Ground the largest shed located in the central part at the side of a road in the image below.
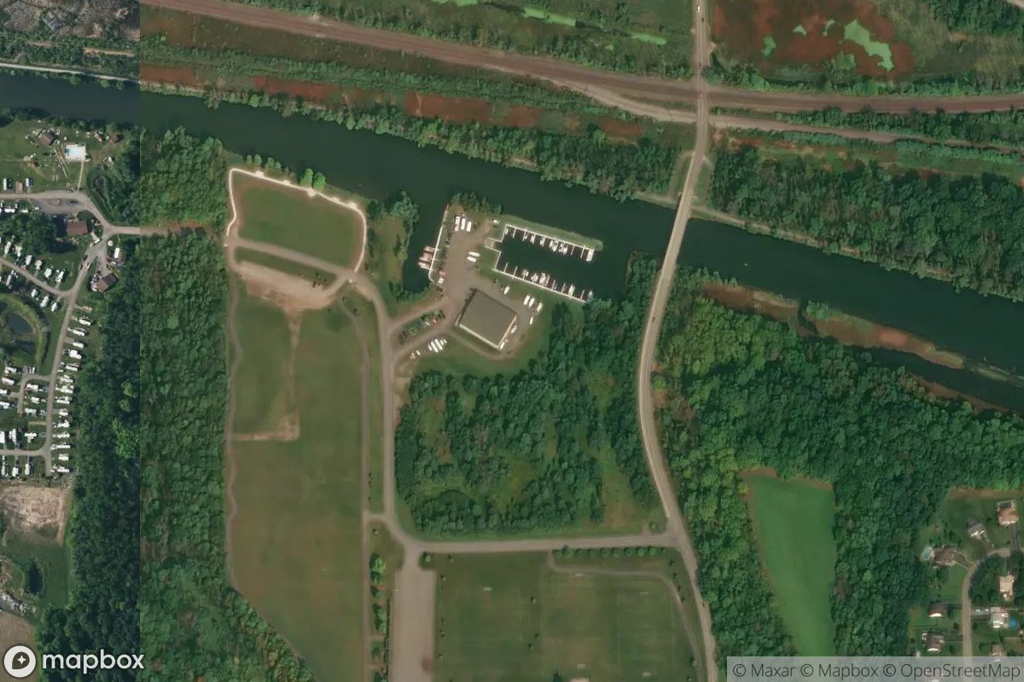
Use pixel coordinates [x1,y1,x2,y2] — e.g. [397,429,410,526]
[460,289,517,350]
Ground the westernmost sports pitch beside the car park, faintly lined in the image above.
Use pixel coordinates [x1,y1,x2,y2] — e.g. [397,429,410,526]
[462,590,517,682]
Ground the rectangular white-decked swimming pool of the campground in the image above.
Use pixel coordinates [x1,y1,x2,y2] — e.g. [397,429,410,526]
[65,144,86,161]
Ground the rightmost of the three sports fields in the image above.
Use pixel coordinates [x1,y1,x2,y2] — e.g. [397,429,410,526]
[619,594,673,677]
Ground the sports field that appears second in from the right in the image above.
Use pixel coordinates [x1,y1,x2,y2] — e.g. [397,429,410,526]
[555,577,604,667]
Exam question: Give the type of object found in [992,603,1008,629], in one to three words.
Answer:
house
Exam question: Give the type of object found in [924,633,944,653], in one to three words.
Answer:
house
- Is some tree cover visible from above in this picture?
Yes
